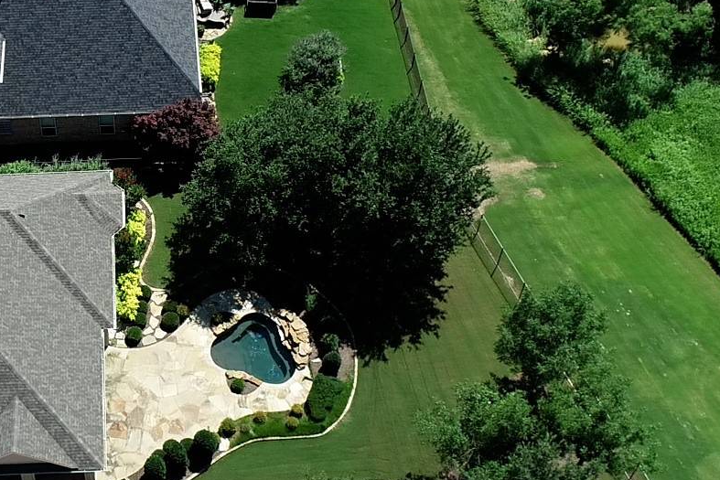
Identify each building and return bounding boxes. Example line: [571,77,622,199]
[0,0,203,145]
[0,169,127,480]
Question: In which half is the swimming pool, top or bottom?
bottom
